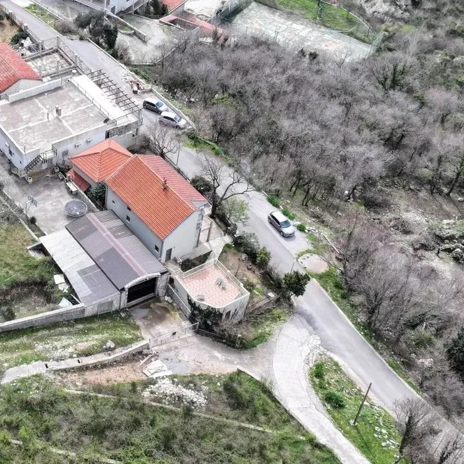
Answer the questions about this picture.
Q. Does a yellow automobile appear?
No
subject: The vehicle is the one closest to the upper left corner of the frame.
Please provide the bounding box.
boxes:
[142,95,170,112]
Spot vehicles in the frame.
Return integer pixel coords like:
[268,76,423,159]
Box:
[157,108,188,127]
[142,95,170,112]
[268,210,298,236]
